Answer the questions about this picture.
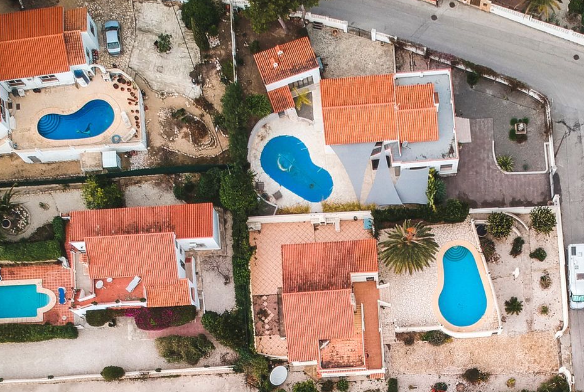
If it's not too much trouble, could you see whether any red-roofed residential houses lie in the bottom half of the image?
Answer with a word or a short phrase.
Yes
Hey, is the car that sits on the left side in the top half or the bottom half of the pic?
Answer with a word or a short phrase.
top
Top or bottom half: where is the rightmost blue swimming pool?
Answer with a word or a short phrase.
bottom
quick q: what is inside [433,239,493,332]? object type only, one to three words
swimming pool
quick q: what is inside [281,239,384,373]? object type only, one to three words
house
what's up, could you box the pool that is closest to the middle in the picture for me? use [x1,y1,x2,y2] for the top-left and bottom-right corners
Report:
[258,132,336,205]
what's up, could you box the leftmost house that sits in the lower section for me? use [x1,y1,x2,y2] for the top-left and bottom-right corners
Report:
[68,202,218,315]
